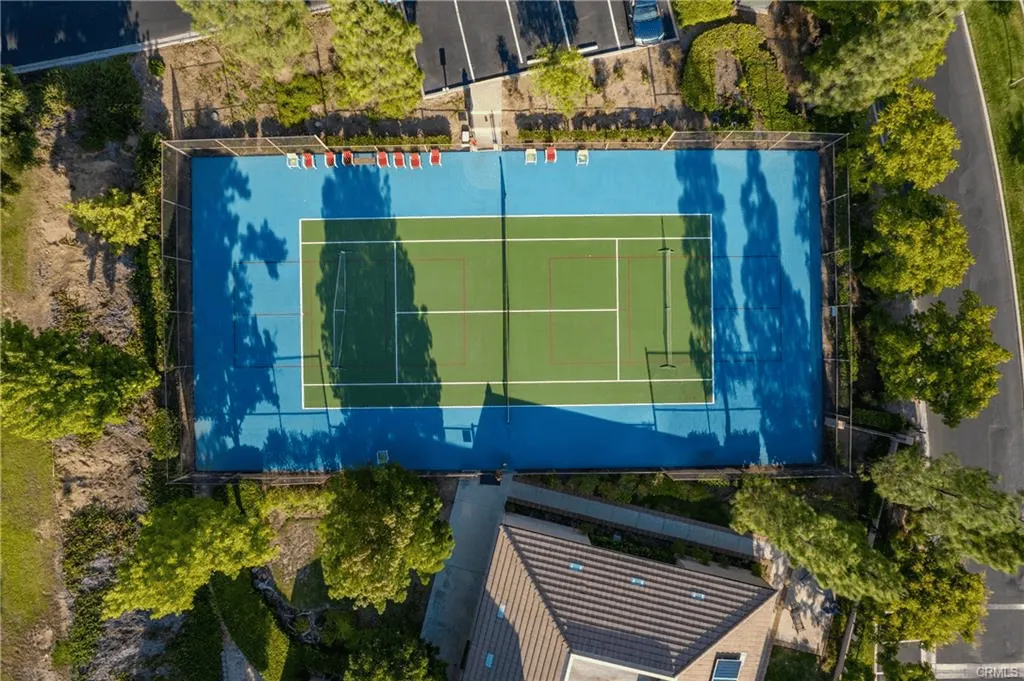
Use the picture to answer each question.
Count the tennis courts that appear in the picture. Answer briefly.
one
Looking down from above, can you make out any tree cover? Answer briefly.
Yes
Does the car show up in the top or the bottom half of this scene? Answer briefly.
top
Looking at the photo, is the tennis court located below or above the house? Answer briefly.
above it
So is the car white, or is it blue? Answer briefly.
blue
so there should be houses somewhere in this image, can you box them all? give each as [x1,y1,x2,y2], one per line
[464,523,779,681]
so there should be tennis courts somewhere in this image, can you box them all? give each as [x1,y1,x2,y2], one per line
[191,150,823,471]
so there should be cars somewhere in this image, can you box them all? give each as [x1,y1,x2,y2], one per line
[627,0,667,48]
